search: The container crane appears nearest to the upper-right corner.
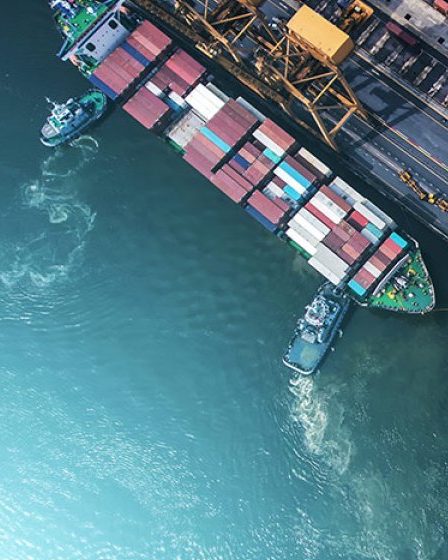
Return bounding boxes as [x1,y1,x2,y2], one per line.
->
[340,0,391,61]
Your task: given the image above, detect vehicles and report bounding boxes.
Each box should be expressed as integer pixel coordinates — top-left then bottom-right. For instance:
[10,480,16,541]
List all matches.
[435,197,448,212]
[394,170,439,205]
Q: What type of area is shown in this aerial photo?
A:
port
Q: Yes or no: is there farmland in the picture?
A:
No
